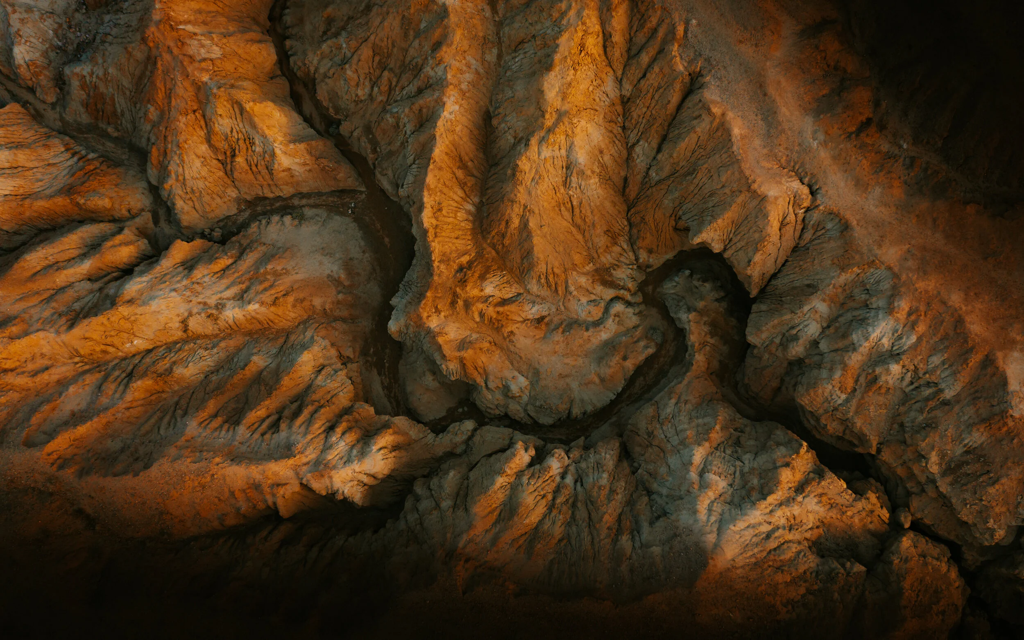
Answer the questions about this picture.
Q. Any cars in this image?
No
